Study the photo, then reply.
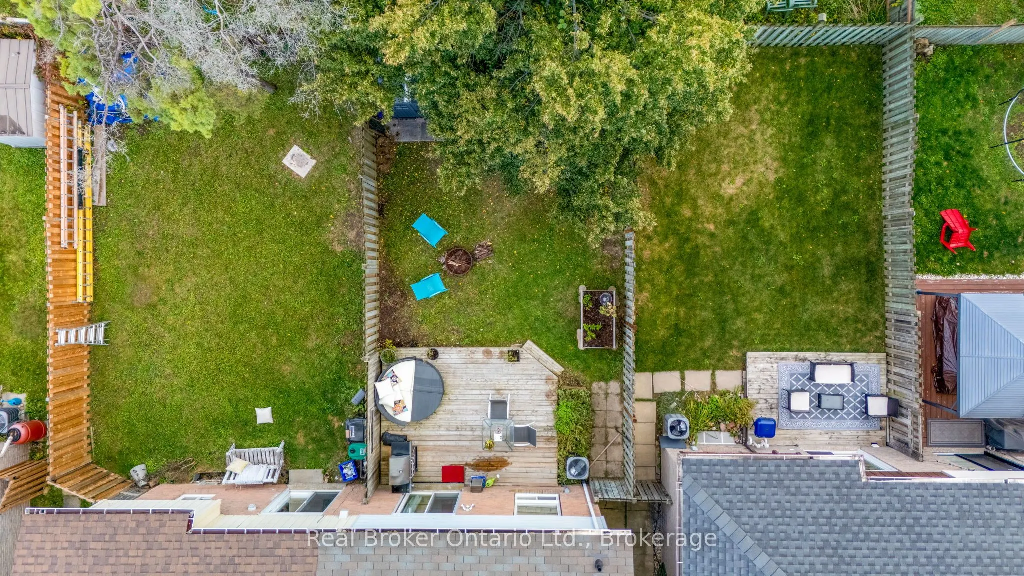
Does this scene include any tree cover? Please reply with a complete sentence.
Yes, the picture does contain tree cover.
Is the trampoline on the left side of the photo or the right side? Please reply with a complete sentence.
It is on the right.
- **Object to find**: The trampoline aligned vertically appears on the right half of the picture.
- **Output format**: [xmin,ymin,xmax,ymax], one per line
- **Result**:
[986,91,1024,184]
